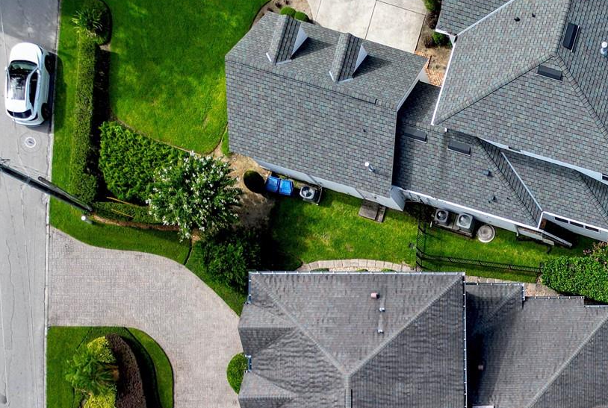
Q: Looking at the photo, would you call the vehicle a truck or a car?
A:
car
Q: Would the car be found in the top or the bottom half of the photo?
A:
top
